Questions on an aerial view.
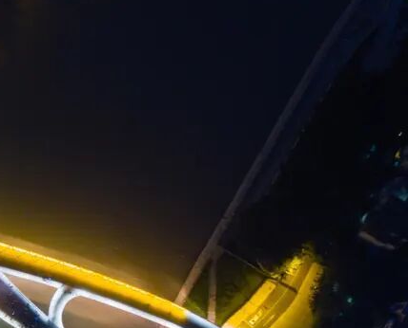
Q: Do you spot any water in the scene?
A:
Yes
